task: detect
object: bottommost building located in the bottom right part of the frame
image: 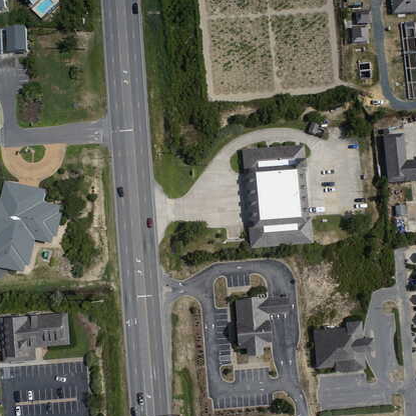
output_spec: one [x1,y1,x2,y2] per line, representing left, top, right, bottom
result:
[312,320,375,373]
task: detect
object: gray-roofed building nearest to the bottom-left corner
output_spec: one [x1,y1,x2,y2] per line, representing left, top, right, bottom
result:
[2,313,72,362]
